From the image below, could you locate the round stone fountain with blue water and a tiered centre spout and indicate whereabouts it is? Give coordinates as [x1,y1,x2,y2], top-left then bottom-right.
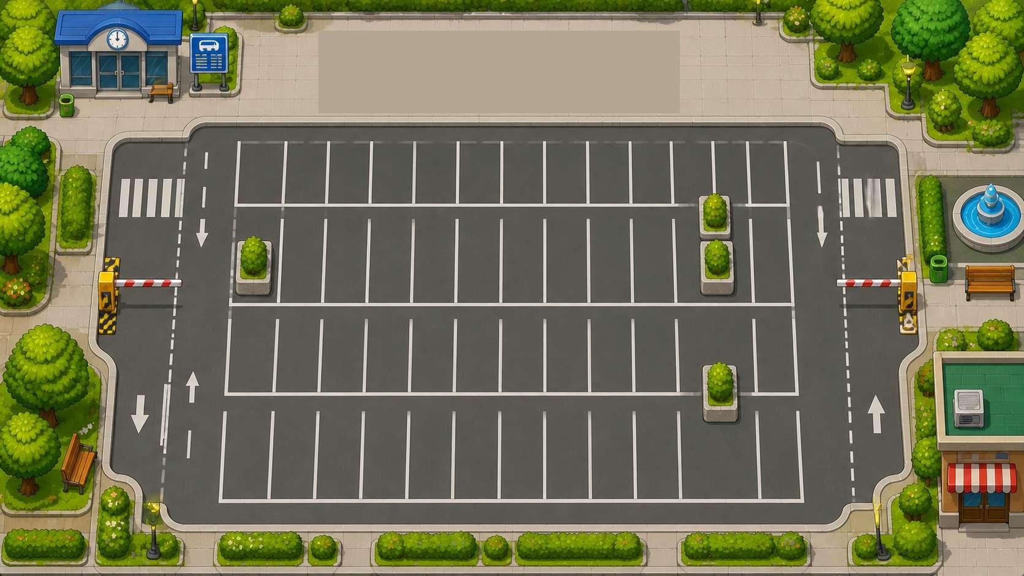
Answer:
[954,182,1024,251]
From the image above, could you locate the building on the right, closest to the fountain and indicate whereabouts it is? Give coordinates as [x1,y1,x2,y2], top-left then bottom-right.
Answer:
[928,354,1024,534]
